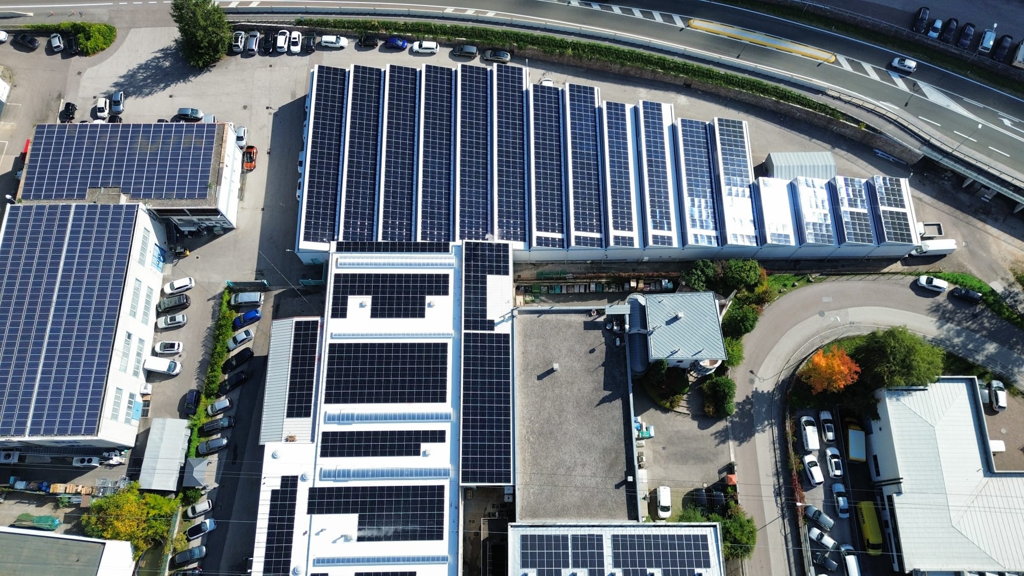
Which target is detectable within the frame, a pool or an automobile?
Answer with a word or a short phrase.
automobile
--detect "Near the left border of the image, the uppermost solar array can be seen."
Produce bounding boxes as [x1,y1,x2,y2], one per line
[20,123,216,198]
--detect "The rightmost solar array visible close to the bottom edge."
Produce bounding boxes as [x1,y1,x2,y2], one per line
[612,535,710,576]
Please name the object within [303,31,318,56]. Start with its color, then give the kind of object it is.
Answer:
black car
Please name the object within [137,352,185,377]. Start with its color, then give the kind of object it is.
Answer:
white vehicle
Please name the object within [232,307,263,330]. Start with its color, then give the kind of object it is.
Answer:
blue car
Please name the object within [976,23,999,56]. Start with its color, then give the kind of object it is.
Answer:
blue vehicle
